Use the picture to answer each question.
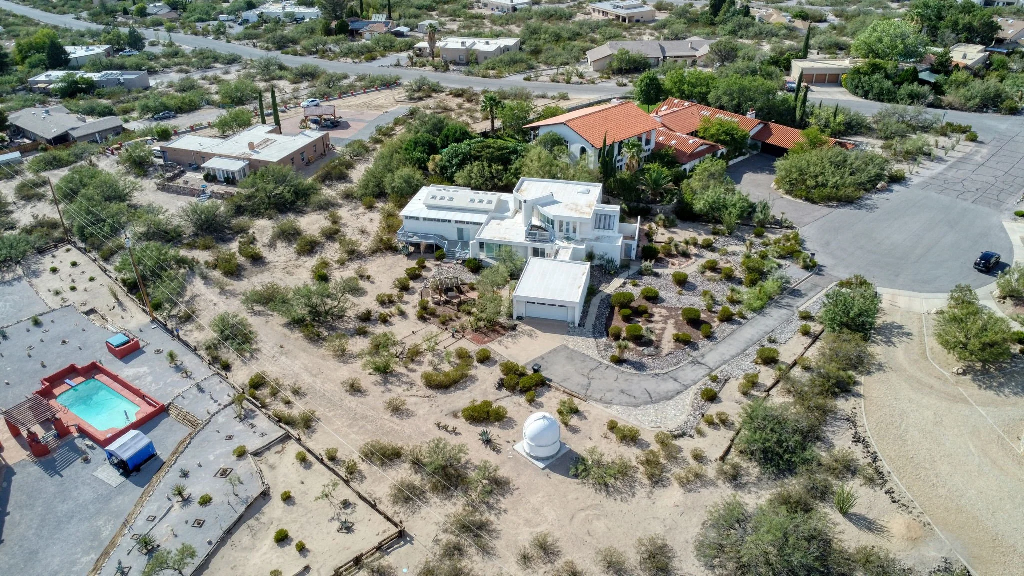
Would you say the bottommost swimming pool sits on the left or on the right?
left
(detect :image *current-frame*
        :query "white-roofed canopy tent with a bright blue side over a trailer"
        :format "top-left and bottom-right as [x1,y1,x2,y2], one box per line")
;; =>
[104,430,158,479]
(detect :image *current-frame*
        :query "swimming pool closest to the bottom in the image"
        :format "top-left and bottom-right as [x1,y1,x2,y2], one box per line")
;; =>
[30,358,169,451]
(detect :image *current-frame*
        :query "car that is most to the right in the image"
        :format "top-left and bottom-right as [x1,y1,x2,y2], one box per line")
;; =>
[975,250,1003,271]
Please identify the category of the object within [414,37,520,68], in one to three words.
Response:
house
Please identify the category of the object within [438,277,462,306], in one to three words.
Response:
gazebo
